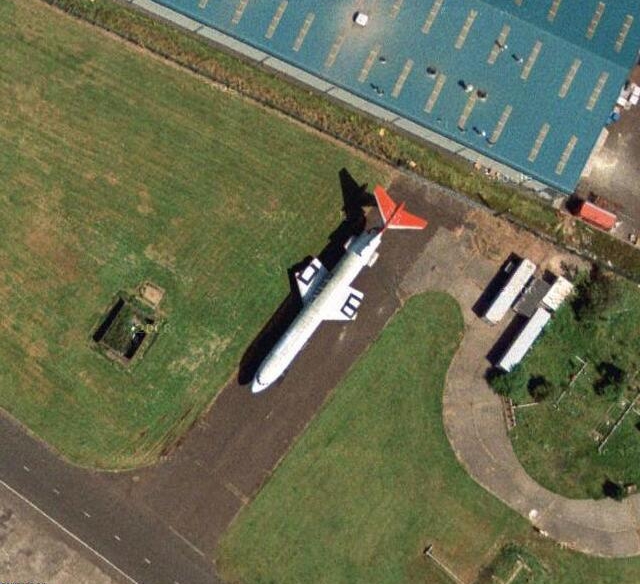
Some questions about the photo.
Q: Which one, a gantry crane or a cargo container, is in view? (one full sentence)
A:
The image shows a cargo container.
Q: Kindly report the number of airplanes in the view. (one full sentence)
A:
I count 1 airplane.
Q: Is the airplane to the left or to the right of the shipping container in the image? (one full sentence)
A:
It is on the left side of the shipping container that the airplane is positioned.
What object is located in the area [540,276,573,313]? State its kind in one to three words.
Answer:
building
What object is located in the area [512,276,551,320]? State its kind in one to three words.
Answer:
shed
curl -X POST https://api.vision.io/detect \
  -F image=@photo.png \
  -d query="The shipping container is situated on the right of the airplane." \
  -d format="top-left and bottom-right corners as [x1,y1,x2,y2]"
[576,202,615,230]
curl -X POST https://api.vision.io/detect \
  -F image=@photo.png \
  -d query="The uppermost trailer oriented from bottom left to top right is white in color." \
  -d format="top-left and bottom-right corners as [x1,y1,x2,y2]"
[482,259,536,326]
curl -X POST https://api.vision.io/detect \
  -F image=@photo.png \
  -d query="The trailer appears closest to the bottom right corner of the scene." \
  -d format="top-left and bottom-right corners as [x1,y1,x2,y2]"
[496,307,550,375]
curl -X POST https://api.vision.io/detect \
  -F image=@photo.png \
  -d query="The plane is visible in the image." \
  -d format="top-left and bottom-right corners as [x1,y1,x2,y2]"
[252,183,429,392]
